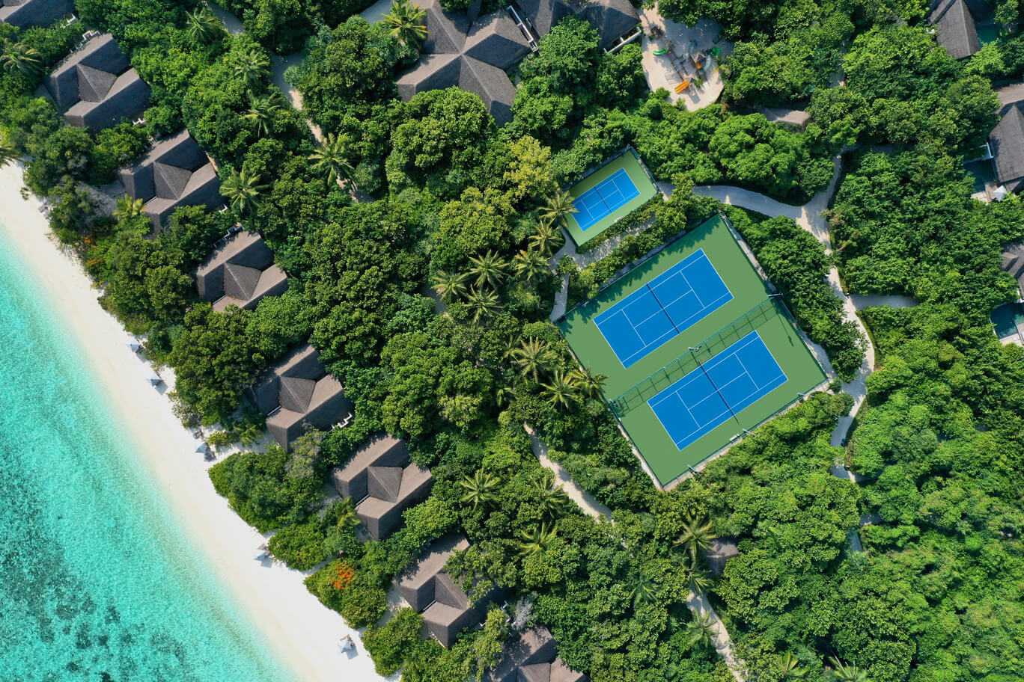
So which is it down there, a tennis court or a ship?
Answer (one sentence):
The image shows a tennis court.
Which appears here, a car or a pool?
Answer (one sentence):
Of the two, only a pool appears.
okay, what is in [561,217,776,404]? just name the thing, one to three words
tennis court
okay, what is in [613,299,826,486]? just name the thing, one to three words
tennis court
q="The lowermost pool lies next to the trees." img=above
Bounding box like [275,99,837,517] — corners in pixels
[995,300,1024,339]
